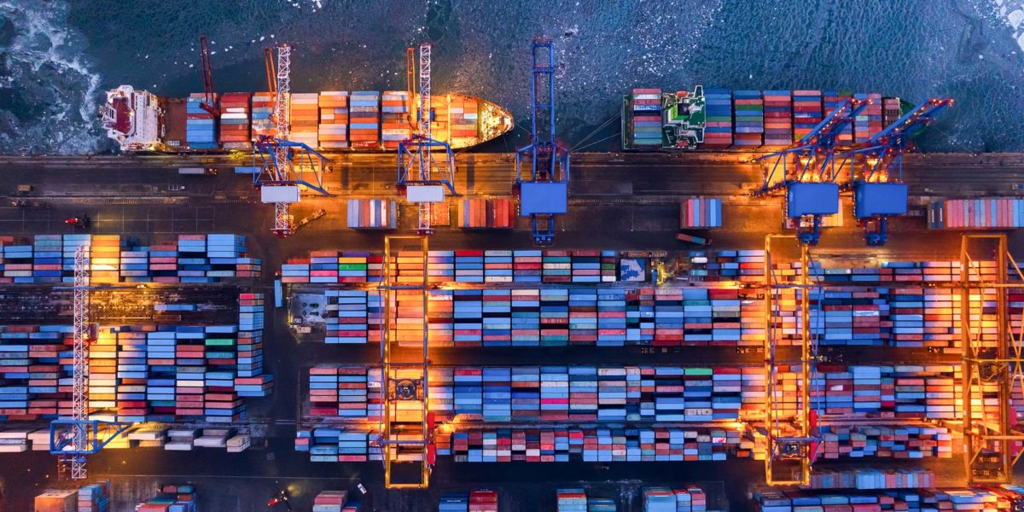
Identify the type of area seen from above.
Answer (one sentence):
The picture captures a port.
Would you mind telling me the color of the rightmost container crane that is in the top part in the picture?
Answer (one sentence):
In this view, the rightmost container crane that is in the top part is blue.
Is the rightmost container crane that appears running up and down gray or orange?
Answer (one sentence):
The rightmost container crane that appears running up and down is orange.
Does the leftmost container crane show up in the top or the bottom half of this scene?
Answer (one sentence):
It is in the bottom half that the leftmost container crane appears.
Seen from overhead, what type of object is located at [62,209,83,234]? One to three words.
work vehicle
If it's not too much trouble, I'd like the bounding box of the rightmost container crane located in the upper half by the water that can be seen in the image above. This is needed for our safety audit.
[811,98,954,254]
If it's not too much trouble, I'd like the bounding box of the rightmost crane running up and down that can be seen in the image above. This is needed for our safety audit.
[929,236,1024,487]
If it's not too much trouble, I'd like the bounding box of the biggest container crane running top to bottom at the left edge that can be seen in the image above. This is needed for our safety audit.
[48,245,144,478]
